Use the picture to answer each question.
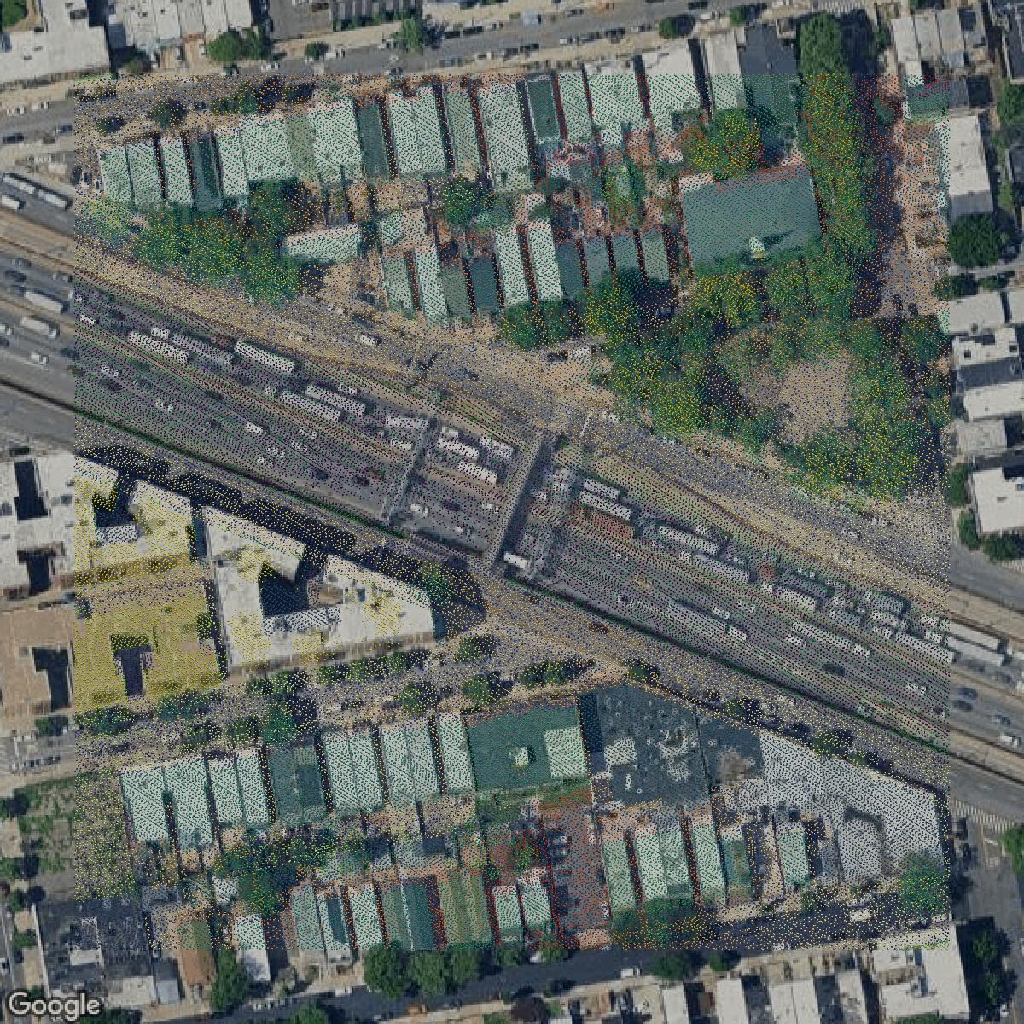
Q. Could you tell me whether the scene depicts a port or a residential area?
residential area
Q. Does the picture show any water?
No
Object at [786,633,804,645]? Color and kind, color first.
white vehicle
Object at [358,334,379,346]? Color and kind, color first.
white vehicle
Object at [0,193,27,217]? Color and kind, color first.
white truck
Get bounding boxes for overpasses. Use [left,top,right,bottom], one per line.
[483,424,553,567]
